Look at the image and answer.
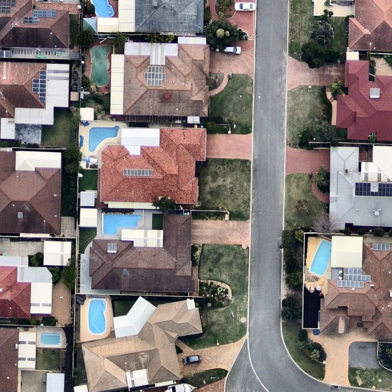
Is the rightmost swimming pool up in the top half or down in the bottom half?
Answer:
bottom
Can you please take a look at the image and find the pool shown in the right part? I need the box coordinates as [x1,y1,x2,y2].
[308,238,332,277]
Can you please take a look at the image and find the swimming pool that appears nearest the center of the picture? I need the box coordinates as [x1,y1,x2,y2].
[102,214,143,236]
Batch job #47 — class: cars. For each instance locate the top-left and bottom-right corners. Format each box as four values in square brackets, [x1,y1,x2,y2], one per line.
[182,354,202,364]
[222,46,242,55]
[234,2,255,11]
